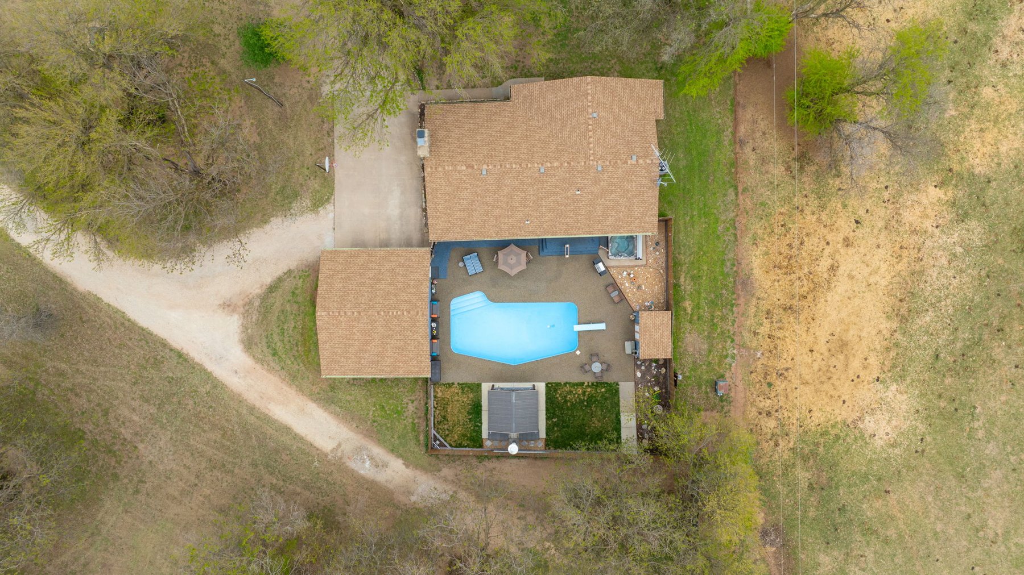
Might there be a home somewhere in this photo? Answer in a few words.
Yes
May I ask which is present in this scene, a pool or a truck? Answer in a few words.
pool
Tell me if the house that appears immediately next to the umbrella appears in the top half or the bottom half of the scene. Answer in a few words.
top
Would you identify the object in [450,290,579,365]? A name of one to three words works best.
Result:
swimming pool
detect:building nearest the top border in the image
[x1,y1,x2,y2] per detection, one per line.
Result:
[418,75,665,243]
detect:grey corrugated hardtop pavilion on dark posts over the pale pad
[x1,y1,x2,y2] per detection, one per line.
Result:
[488,385,539,442]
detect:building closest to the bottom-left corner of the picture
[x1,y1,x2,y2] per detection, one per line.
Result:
[316,246,432,379]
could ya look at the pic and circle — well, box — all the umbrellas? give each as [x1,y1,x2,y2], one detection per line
[498,244,526,276]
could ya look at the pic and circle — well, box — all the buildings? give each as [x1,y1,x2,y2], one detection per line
[488,385,539,442]
[633,311,672,359]
[418,75,665,243]
[316,246,432,379]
